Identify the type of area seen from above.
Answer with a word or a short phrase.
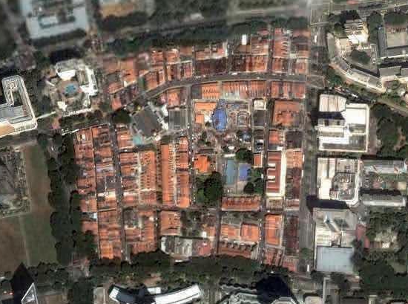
residential area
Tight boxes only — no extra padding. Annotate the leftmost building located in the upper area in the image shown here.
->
[0,76,41,132]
